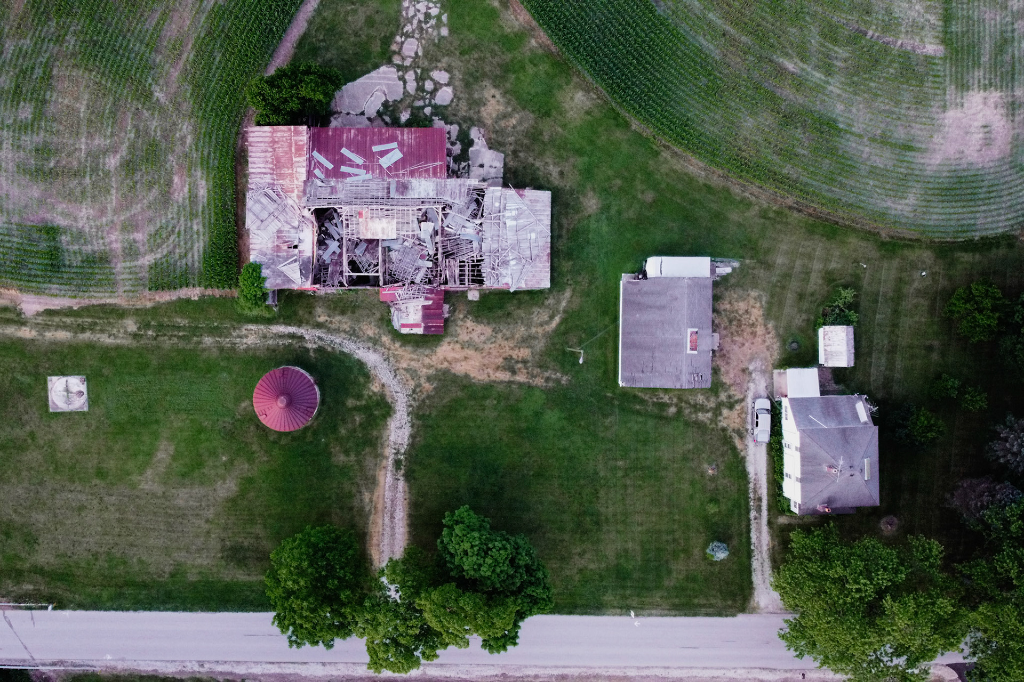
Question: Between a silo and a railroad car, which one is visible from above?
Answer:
silo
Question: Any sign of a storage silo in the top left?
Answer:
No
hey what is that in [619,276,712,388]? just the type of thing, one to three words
building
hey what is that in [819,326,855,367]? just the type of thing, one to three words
shed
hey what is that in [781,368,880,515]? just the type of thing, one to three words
house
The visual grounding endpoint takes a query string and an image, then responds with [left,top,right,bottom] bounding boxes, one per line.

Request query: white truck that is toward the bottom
[751,398,773,444]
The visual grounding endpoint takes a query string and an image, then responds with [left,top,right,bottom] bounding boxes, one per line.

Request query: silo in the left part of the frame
[253,365,323,432]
